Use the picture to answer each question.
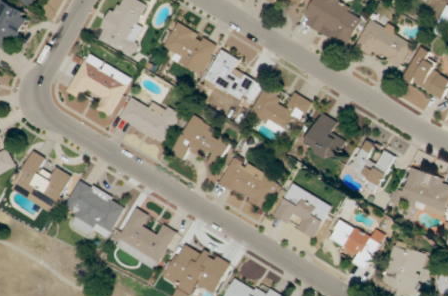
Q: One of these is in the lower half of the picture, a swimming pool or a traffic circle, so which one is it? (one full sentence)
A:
Visible in the lower half of the picture is a swimming pool.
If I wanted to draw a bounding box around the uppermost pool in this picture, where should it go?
[153,4,173,28]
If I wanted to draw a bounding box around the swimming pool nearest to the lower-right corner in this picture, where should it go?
[416,210,448,232]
